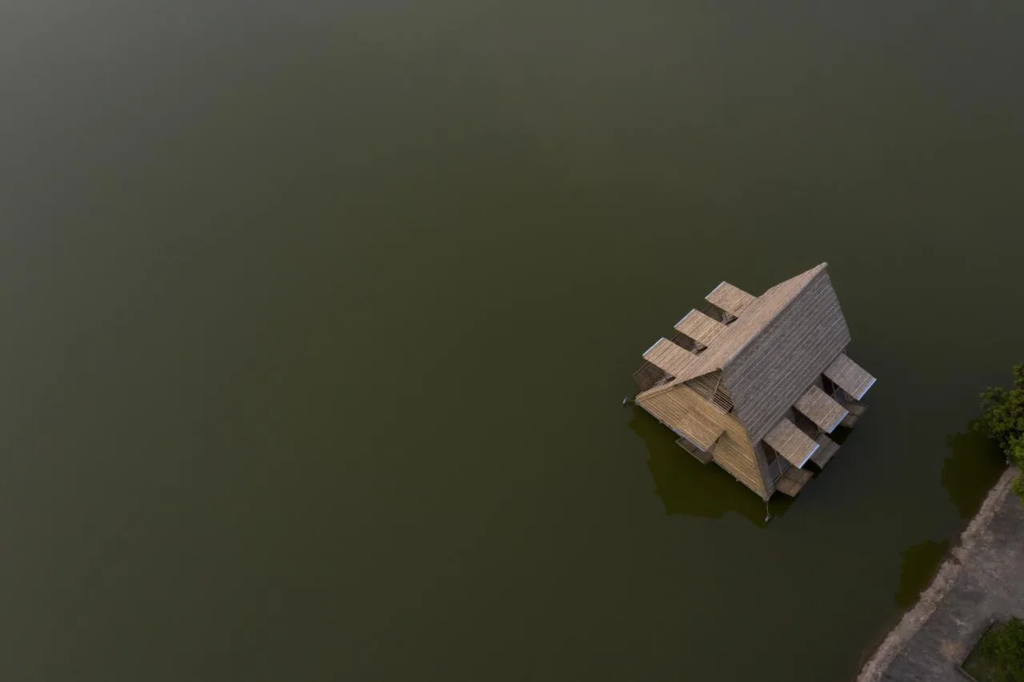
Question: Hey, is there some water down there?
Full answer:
Yes, water can be seen from above here.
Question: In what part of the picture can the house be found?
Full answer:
The house appears toward the right of the photo.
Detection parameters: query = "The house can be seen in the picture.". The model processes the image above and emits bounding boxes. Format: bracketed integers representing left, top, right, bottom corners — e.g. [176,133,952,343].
[633,263,878,500]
